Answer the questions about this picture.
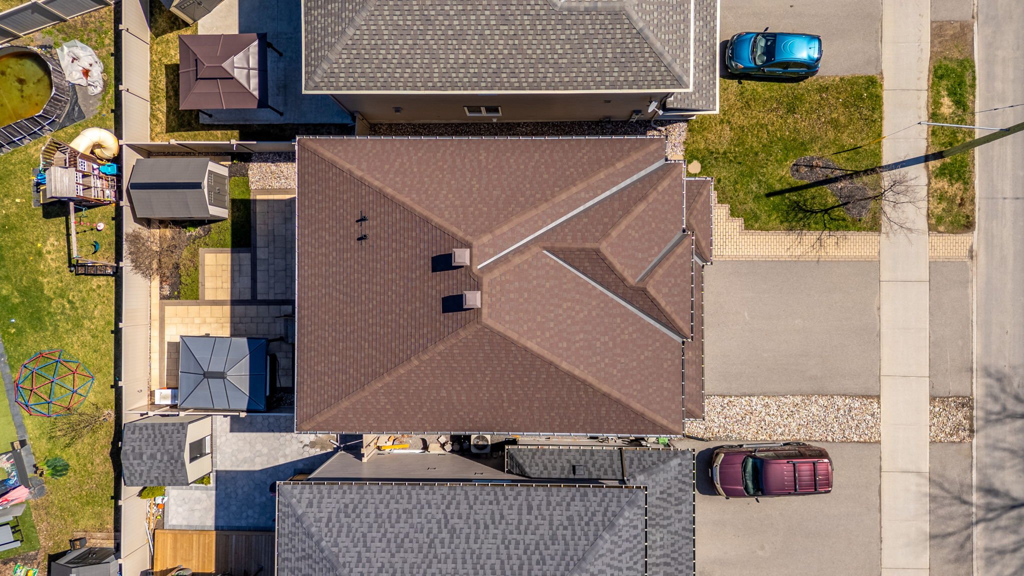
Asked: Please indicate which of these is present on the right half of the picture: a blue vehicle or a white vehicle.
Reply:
blue vehicle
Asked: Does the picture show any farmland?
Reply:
No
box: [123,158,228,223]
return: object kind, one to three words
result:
shed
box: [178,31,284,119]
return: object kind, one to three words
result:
gazebo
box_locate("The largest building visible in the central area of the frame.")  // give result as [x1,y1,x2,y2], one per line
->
[296,135,713,444]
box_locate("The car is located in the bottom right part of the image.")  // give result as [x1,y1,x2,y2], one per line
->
[711,442,833,503]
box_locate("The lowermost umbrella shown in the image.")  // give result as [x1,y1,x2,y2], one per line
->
[0,485,28,505]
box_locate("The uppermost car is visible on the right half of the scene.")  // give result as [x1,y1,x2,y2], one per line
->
[725,27,825,83]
